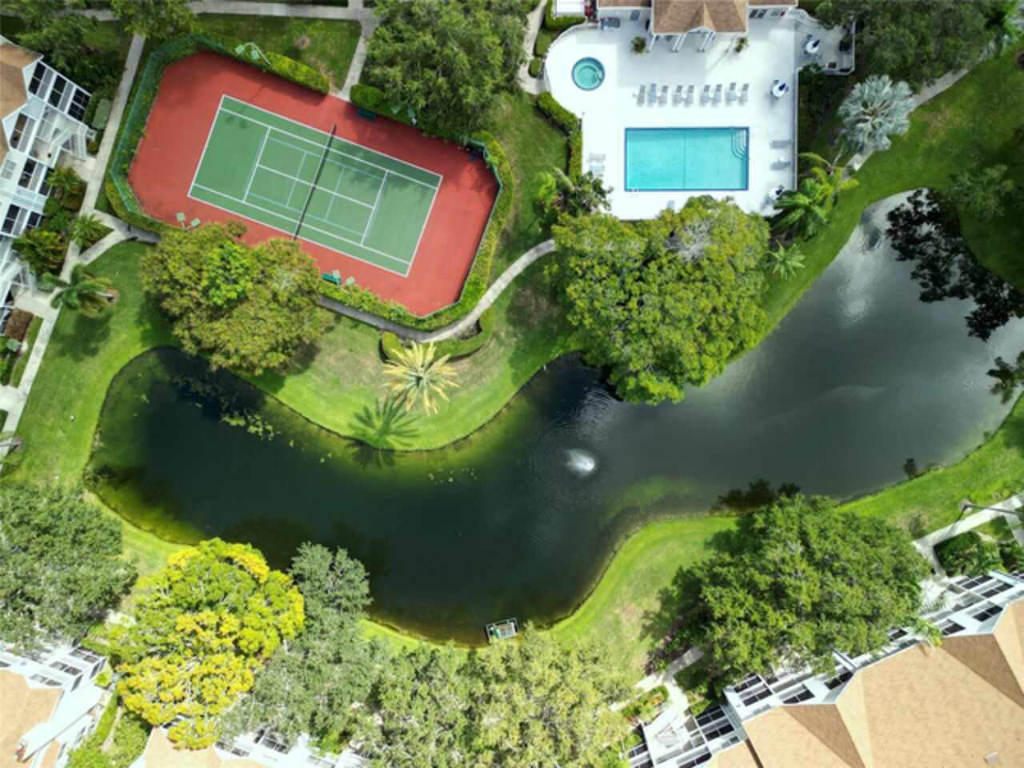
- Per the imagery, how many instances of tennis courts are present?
1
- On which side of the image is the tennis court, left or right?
left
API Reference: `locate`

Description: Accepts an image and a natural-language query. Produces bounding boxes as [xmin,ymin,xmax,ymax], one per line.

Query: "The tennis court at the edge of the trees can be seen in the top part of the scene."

[129,51,497,315]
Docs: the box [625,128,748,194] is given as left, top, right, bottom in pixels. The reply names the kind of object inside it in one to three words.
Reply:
swimming pool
